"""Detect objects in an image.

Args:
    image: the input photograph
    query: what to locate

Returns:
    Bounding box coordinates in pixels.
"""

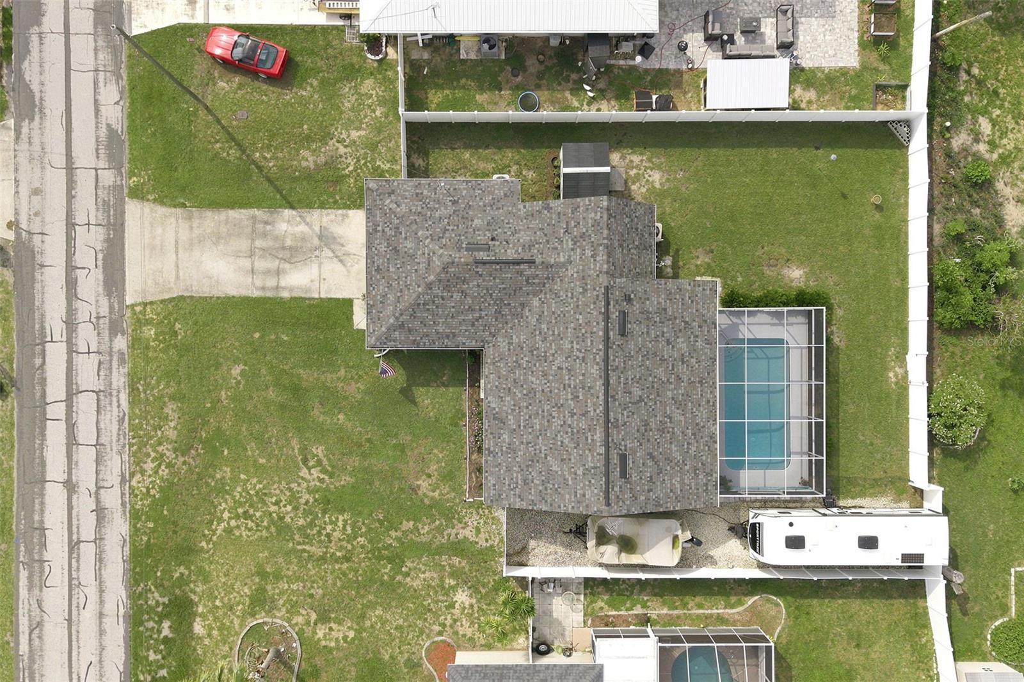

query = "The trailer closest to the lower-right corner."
[727,503,945,565]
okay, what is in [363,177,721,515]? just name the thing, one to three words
house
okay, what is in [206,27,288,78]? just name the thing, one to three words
car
